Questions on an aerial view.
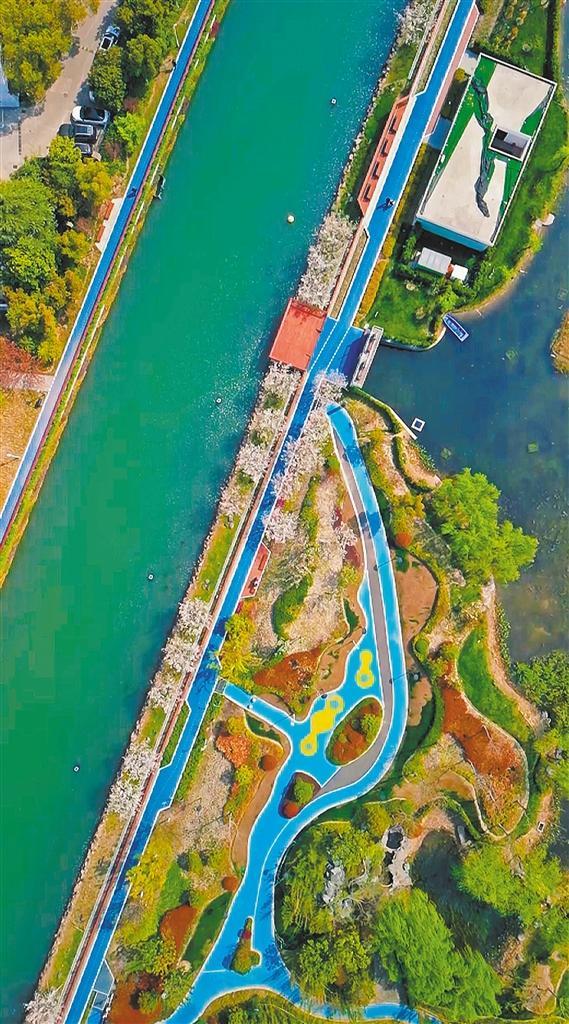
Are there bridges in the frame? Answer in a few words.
Yes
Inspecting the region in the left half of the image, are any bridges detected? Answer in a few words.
No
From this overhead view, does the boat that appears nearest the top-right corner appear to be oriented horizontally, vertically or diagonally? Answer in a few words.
diagonally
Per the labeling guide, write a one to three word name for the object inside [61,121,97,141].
car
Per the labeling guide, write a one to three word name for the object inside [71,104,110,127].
car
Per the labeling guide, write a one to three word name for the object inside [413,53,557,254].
building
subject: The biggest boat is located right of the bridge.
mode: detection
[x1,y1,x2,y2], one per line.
[446,316,469,342]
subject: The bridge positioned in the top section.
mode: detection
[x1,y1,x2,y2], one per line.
[350,328,382,390]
